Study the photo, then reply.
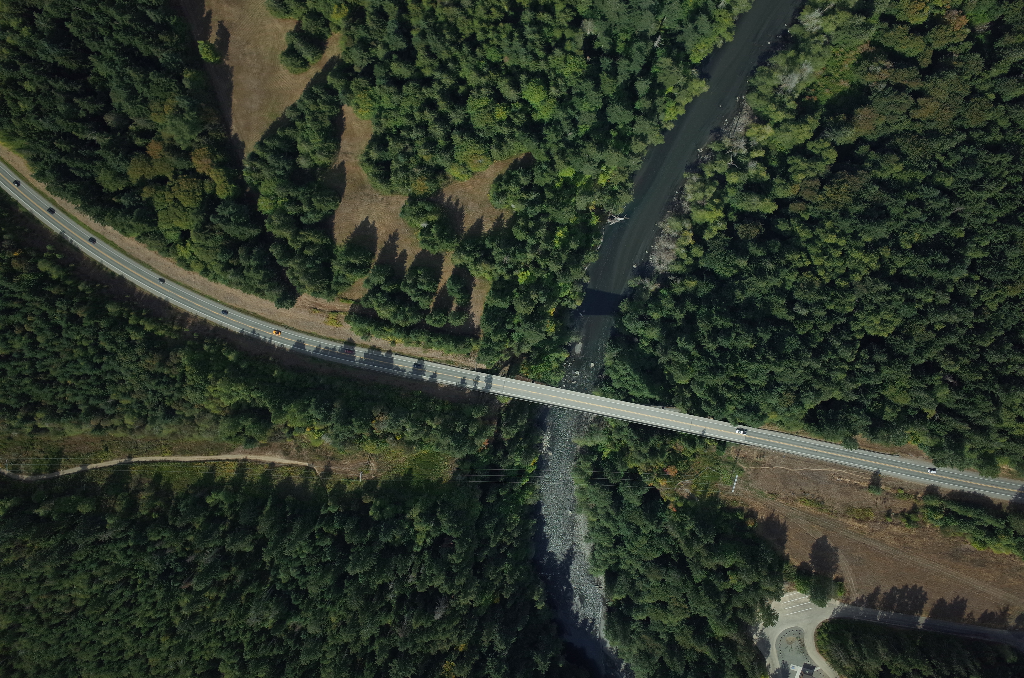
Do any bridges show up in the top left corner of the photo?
No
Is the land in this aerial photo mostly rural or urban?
rural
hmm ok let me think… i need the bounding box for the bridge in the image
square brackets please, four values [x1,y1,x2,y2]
[501,376,748,445]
